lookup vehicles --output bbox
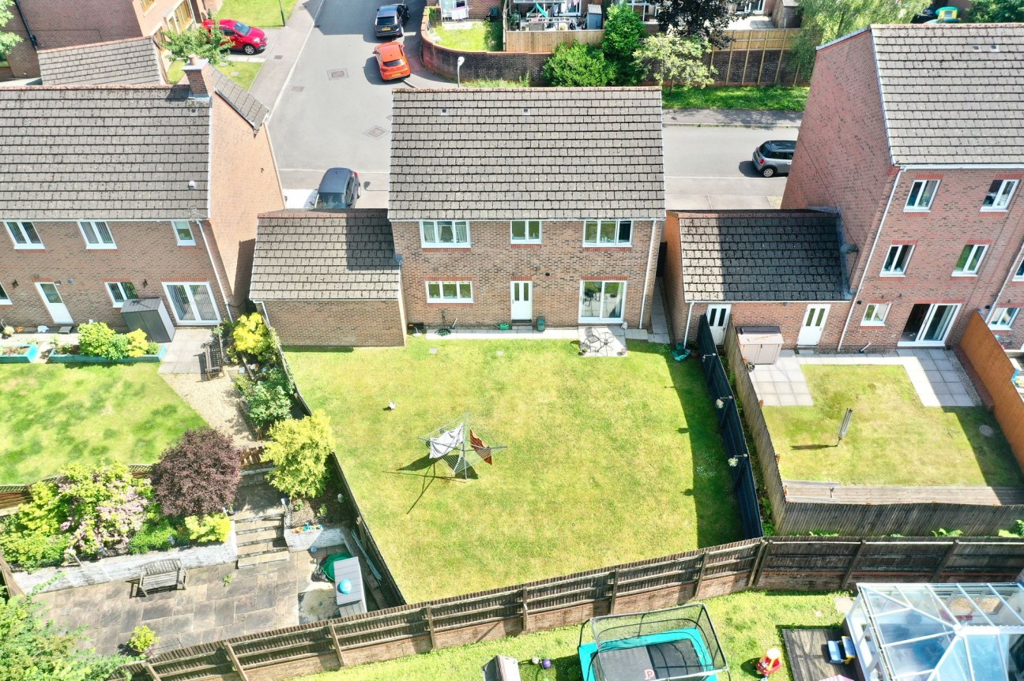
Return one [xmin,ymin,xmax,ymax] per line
[752,134,799,173]
[311,166,361,214]
[376,41,413,76]
[373,3,408,35]
[195,16,270,51]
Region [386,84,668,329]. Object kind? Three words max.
house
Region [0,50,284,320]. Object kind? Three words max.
house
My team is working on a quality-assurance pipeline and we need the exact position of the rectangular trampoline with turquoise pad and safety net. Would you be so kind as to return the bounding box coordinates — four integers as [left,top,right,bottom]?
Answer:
[578,605,723,681]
